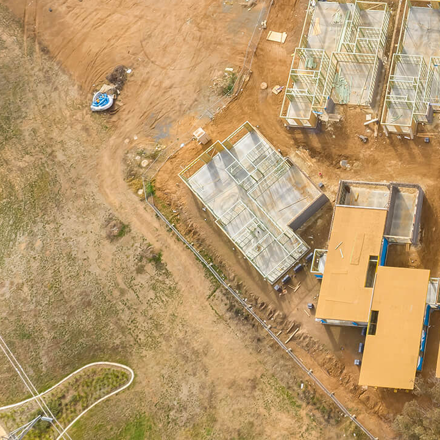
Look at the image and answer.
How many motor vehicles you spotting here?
0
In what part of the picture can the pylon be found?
bottom left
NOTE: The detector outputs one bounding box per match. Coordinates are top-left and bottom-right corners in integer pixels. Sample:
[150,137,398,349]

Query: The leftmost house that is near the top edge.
[283,0,392,129]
